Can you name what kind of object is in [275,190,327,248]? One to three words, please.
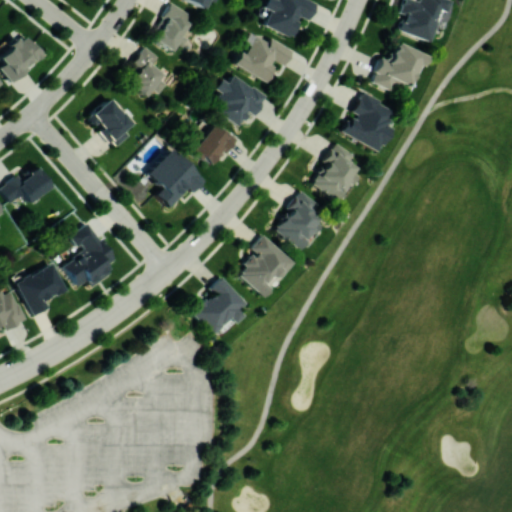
house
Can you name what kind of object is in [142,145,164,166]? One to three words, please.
swimming pool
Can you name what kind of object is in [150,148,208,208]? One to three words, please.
house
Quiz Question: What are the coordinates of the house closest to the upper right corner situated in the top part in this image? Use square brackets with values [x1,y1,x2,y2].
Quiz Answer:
[402,0,454,40]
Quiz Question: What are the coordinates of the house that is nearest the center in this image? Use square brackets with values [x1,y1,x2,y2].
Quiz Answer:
[237,234,296,297]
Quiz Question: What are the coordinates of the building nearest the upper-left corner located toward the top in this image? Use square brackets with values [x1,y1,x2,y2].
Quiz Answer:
[0,36,46,79]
